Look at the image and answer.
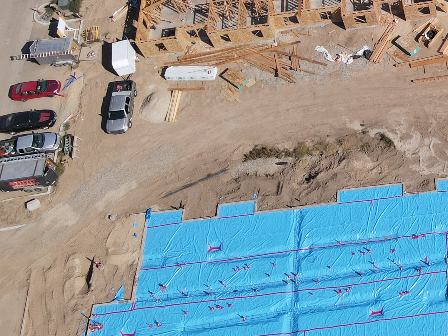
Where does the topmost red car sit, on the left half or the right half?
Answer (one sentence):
It is on the left.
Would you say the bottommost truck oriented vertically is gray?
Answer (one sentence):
Yes, the bottommost truck oriented vertically is indeed gray.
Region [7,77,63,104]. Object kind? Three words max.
car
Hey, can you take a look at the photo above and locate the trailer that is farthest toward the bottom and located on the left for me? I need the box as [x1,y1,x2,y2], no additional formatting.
[0,158,69,193]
